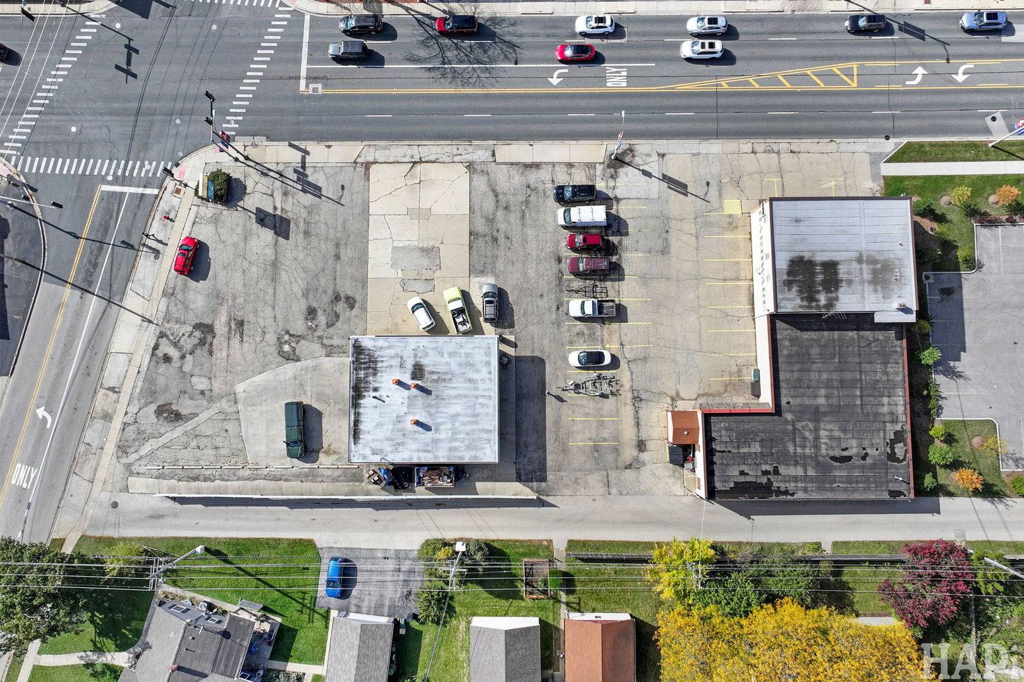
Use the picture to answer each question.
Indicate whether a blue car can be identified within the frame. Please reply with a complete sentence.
Yes, I can see a blue car in this picture.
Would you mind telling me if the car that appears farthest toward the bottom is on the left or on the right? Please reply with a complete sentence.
The car that appears farthest toward the bottom is on the left side of the image.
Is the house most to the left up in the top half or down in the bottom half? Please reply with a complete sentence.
You can find the house most to the left in the bottom half.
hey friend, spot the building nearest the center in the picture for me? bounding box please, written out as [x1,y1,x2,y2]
[348,334,501,466]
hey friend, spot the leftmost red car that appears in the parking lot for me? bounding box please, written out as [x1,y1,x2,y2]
[175,236,199,275]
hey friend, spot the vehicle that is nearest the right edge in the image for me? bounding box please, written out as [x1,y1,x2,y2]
[959,10,1006,33]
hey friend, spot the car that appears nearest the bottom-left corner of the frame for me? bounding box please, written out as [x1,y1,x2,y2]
[325,557,345,595]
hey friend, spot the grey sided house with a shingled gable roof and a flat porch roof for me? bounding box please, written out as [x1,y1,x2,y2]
[122,603,263,682]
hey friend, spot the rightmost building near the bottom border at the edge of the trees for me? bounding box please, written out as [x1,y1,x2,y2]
[563,613,637,682]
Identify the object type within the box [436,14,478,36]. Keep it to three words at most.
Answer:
car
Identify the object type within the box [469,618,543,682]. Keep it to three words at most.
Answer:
building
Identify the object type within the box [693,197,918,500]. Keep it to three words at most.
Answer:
building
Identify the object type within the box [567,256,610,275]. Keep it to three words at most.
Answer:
vehicle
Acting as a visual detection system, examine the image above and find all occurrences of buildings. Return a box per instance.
[325,612,395,682]
[122,603,263,682]
[693,197,918,500]
[469,618,543,682]
[563,613,637,682]
[348,334,501,466]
